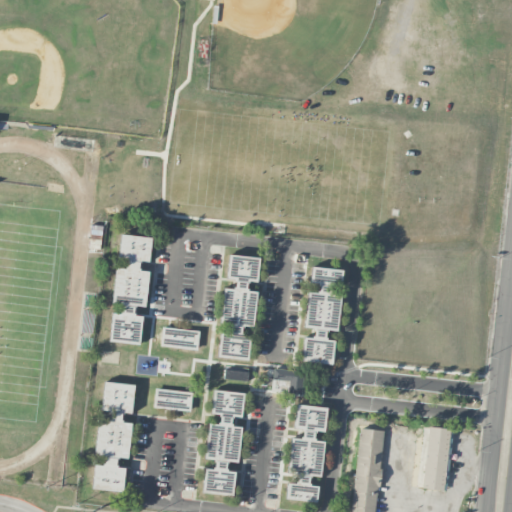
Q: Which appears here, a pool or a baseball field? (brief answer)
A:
baseball field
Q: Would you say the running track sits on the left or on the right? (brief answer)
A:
left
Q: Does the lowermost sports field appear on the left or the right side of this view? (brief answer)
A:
left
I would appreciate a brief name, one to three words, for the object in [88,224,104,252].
shed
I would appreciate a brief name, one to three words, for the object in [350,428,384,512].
building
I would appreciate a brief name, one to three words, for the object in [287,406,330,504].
building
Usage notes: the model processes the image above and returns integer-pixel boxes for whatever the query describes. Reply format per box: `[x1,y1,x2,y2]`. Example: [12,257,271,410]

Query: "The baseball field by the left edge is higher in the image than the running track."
[0,28,65,110]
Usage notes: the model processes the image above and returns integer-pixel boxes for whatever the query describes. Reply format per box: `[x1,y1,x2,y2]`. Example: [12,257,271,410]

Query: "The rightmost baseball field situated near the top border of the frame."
[209,0,378,100]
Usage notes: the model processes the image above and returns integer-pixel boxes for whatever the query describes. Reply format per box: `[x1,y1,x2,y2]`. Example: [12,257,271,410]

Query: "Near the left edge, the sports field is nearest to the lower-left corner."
[0,203,62,424]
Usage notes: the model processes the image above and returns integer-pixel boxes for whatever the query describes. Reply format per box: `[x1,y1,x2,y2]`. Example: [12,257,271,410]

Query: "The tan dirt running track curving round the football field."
[0,137,99,486]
